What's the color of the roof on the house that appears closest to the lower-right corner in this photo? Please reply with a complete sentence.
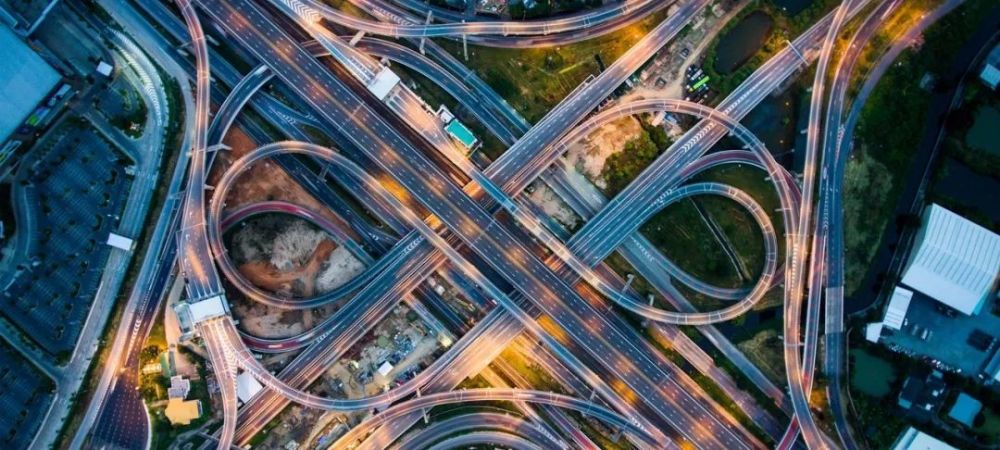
From above, the roof of the house that appears closest to the lower-right corner looks blue.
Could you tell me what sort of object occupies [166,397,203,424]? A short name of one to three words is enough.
house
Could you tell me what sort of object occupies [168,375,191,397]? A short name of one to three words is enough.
house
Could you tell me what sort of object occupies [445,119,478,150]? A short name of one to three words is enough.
building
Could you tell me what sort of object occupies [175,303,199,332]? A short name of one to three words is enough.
building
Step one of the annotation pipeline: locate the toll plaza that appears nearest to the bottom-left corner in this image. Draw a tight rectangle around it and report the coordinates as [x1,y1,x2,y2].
[190,288,231,327]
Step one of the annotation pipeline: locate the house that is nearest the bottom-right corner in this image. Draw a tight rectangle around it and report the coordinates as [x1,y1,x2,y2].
[945,391,981,426]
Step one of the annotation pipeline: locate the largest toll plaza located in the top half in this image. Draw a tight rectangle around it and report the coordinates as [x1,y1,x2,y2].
[365,64,404,107]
